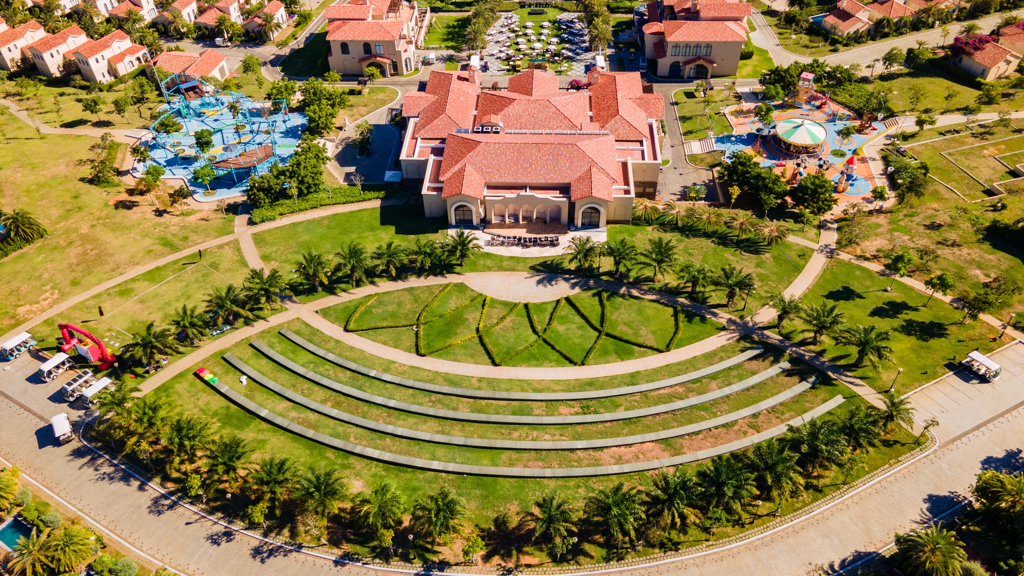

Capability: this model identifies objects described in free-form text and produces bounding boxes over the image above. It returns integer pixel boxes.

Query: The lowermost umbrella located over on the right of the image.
[756,118,777,133]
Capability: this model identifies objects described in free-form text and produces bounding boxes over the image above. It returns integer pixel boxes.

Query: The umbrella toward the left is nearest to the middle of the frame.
[381,167,401,181]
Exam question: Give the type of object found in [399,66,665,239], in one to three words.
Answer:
building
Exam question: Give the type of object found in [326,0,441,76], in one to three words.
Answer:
house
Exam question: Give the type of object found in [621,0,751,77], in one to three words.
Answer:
house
